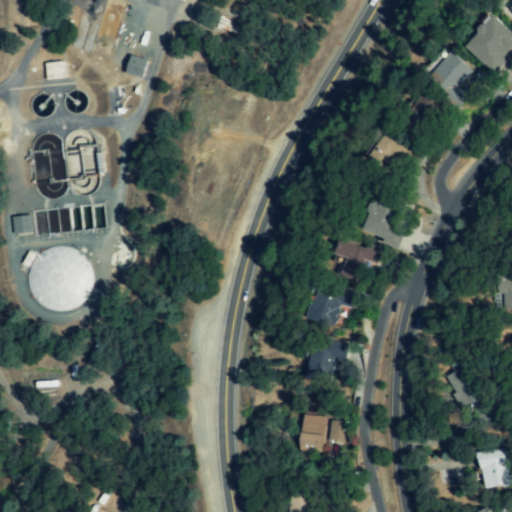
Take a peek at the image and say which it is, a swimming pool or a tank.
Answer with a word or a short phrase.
tank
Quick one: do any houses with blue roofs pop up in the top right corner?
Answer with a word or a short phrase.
No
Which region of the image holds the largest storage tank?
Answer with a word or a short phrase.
left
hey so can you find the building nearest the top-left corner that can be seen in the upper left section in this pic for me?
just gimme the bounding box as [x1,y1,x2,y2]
[46,60,69,80]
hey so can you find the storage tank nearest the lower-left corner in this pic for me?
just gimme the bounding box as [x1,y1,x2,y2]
[28,245,96,312]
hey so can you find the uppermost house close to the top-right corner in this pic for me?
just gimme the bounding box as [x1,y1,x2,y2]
[466,13,512,70]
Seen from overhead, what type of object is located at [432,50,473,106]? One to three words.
house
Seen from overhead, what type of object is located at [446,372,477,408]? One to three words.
house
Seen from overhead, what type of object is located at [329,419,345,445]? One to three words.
building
